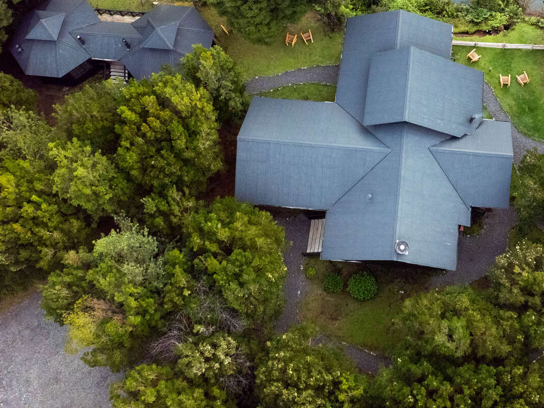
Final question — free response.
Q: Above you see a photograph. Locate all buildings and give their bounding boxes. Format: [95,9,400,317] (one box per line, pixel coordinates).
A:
[8,0,220,95]
[235,10,513,271]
